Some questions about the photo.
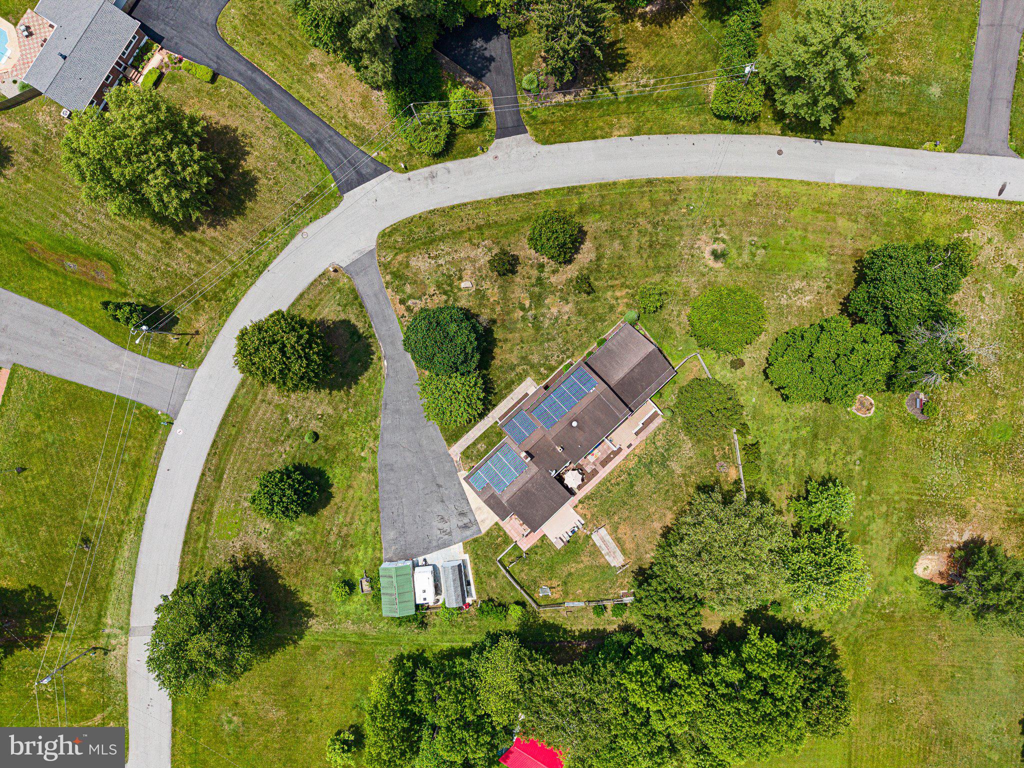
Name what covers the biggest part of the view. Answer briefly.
grass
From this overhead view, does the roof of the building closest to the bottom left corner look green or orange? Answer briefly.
green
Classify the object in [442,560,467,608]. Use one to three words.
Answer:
shed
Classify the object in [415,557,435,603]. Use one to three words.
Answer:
trailer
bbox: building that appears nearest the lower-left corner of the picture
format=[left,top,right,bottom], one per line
[380,560,416,617]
